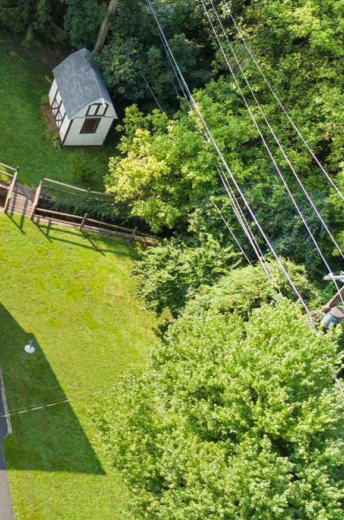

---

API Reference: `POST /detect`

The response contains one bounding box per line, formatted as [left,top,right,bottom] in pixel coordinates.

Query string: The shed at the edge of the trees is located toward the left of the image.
[44,49,118,147]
